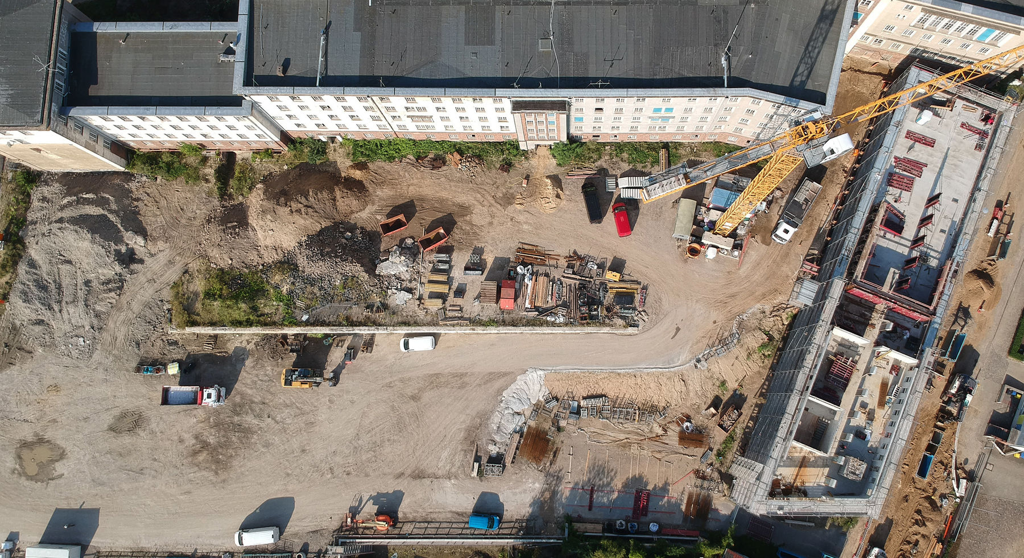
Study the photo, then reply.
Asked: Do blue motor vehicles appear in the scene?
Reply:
Yes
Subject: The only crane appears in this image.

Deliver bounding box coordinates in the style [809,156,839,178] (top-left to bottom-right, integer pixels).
[648,44,1024,247]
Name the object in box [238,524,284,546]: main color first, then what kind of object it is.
white vehicle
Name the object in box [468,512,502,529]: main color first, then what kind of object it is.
blue vehicle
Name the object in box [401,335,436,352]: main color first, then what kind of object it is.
white vehicle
